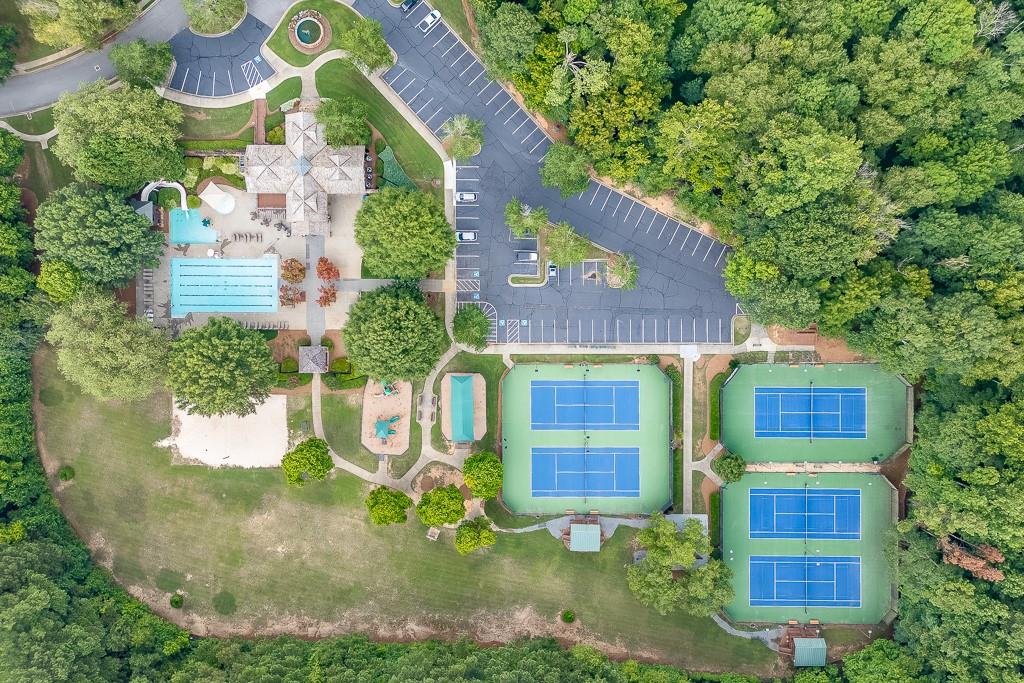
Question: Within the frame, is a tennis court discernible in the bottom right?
Yes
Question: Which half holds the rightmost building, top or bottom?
bottom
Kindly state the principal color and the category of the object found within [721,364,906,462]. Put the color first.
green tennis court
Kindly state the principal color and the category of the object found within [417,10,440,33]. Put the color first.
white truck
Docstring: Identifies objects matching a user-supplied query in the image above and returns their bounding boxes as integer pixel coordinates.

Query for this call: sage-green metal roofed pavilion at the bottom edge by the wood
[788,632,827,666]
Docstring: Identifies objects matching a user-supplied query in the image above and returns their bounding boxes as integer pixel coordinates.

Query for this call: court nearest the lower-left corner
[157,391,289,467]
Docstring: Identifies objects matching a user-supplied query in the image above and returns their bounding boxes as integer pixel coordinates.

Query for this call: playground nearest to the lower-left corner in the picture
[361,377,413,456]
